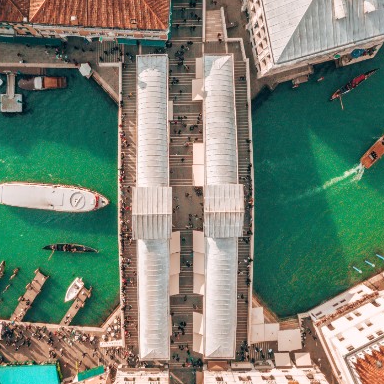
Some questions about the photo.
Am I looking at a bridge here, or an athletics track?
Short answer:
bridge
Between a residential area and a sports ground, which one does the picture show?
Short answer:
residential area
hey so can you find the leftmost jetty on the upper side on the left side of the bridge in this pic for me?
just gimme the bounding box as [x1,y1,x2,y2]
[0,68,24,113]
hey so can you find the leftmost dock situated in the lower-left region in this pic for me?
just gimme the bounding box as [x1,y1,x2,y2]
[6,268,49,322]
